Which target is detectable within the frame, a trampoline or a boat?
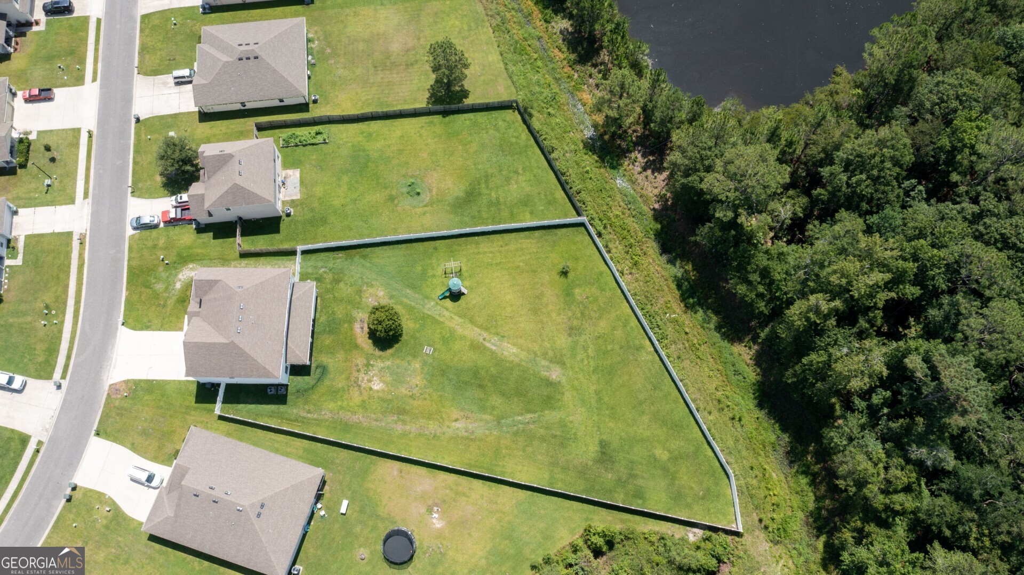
trampoline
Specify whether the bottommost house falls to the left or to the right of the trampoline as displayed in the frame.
to the left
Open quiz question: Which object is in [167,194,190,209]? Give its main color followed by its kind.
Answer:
white car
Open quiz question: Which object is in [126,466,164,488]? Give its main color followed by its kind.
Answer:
white car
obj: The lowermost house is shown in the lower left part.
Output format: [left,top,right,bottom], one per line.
[142,426,327,575]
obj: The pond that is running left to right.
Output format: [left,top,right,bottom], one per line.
[623,0,934,120]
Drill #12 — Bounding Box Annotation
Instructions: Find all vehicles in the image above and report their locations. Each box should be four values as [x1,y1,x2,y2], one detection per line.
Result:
[170,69,197,85]
[167,194,190,209]
[43,0,74,16]
[160,207,197,223]
[126,466,164,488]
[20,87,57,103]
[0,374,29,391]
[129,216,161,230]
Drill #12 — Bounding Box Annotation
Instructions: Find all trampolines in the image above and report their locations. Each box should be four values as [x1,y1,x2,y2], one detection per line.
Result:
[382,529,417,565]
